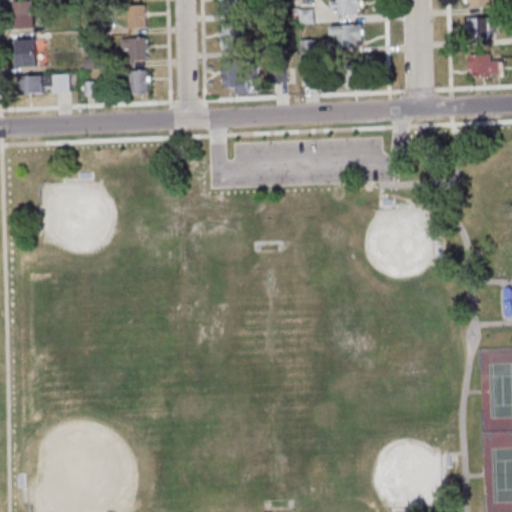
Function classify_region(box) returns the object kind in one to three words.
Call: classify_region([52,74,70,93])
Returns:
building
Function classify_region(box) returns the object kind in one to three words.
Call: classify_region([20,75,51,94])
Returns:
house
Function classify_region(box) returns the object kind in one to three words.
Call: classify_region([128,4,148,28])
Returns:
house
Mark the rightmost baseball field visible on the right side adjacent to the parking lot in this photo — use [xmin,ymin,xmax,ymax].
[365,204,436,278]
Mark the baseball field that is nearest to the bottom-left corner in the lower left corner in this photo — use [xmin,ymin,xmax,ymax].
[36,420,138,512]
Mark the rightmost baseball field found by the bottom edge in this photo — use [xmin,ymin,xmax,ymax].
[374,438,442,508]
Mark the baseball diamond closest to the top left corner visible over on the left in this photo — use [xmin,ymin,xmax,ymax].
[43,181,118,254]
